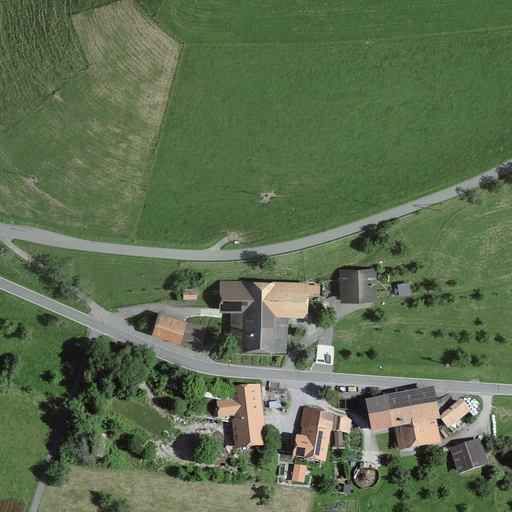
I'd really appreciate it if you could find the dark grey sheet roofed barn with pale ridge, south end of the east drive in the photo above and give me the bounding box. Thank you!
[450,439,488,474]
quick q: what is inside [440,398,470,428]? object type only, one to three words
barn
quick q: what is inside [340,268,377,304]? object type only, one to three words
house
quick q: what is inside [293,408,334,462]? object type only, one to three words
house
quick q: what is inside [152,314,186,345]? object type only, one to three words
shed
